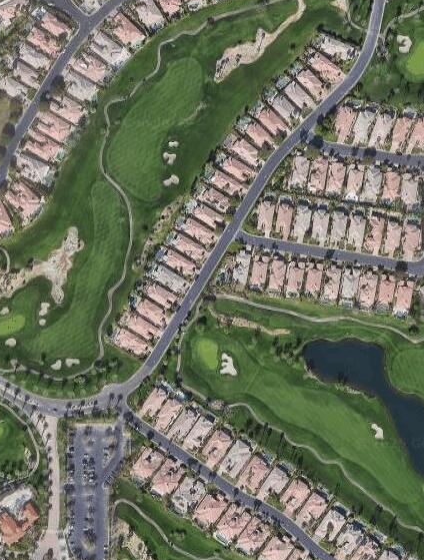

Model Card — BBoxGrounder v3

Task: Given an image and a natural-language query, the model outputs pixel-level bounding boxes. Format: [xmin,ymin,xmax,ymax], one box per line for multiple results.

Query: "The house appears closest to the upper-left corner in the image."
[0,0,29,24]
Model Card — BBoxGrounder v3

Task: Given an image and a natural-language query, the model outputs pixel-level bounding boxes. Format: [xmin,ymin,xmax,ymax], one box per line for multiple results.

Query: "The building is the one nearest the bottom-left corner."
[0,505,41,545]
